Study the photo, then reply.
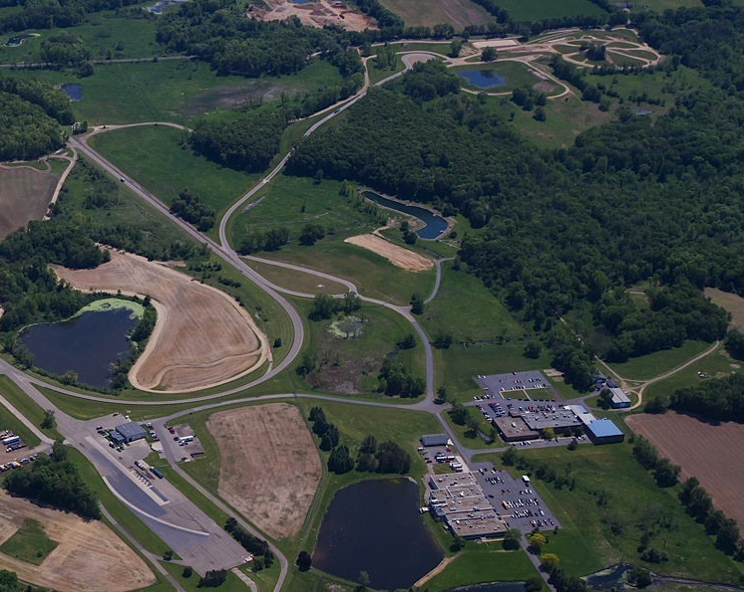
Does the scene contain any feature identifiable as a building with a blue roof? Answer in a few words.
Yes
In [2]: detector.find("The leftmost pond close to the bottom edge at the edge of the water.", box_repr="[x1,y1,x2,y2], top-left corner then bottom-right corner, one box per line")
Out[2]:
[313,478,443,590]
